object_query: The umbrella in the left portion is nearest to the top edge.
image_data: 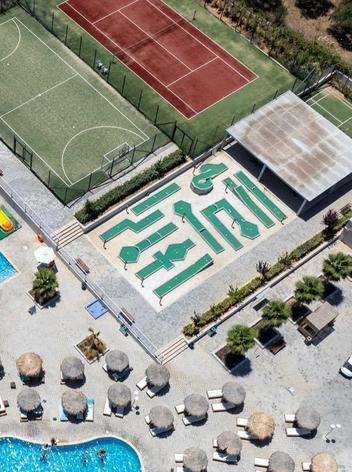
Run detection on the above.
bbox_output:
[34,246,54,270]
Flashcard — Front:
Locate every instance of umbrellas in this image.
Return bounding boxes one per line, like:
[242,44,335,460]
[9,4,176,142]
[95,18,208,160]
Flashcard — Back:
[62,394,87,418]
[182,395,209,421]
[244,414,274,442]
[215,432,242,459]
[266,456,293,472]
[291,409,318,434]
[105,385,132,410]
[219,384,246,409]
[103,352,130,377]
[180,449,208,472]
[34,246,54,270]
[16,391,42,415]
[17,355,44,381]
[144,367,171,392]
[148,409,174,434]
[59,359,84,383]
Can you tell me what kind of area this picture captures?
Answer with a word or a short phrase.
sports ground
